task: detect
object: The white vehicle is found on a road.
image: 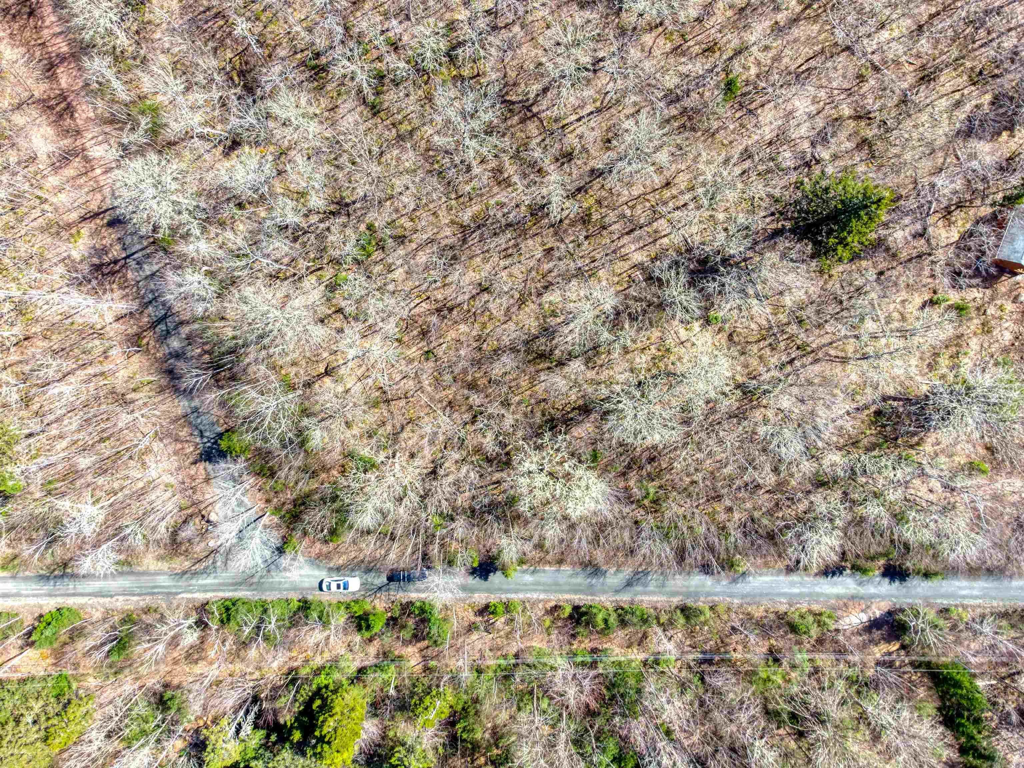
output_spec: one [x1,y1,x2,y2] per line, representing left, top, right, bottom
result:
[320,576,359,593]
